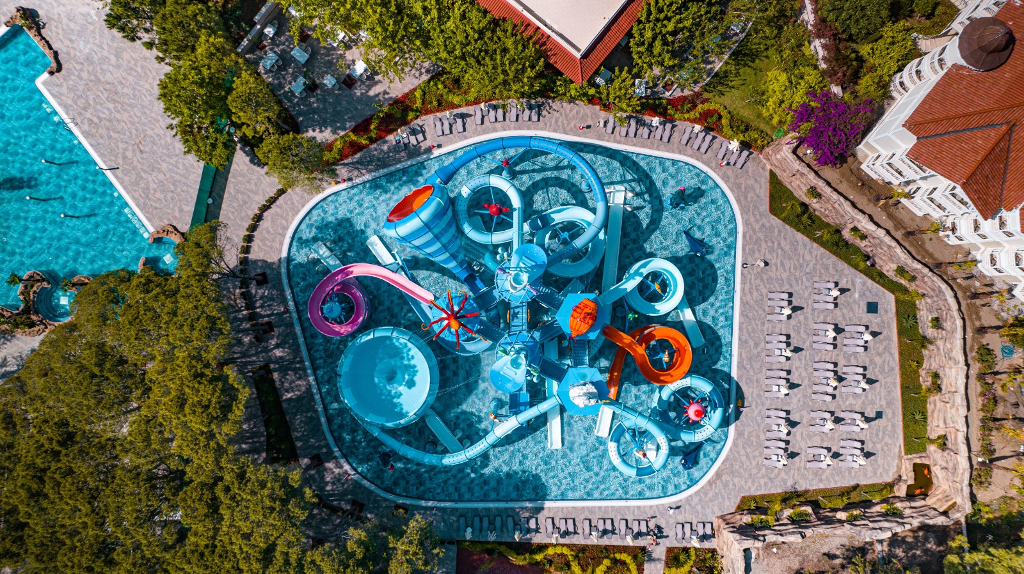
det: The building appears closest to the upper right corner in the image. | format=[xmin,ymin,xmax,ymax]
[860,0,1024,298]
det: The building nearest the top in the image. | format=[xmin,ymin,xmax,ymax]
[477,0,642,86]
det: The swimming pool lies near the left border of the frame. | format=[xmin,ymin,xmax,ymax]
[0,24,182,321]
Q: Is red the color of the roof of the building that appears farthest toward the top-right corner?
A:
Yes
